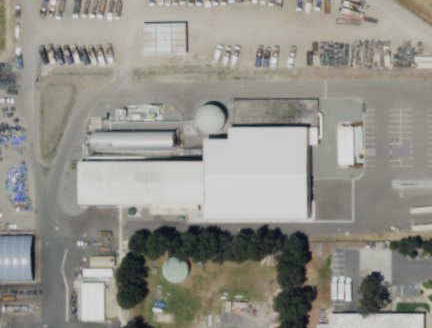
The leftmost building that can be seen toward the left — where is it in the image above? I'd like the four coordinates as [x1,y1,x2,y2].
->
[0,236,32,280]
